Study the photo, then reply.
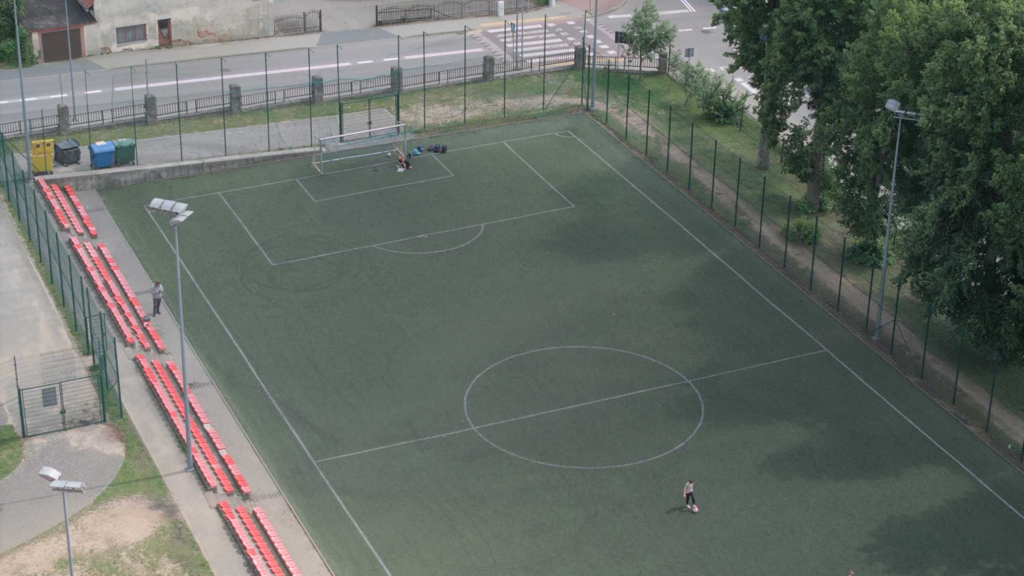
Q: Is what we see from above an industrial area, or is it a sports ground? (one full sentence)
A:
The area seen from above is a sports ground.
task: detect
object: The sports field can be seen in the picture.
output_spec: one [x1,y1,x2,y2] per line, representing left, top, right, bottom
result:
[98,113,1024,576]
